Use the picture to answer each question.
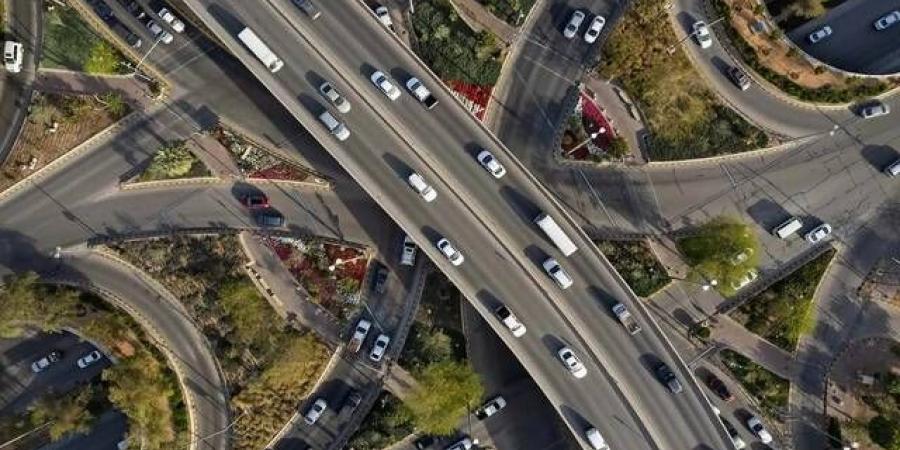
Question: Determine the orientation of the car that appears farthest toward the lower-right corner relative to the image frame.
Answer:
diagonally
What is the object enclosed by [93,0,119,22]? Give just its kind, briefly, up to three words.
car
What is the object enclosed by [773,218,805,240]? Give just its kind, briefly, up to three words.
vehicle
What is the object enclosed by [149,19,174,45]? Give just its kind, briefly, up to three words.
car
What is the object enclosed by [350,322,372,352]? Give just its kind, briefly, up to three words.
truck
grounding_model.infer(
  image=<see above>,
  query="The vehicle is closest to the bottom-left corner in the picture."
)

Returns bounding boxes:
[33,351,62,371]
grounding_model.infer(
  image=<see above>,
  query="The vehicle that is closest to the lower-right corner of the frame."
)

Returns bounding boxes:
[745,416,769,442]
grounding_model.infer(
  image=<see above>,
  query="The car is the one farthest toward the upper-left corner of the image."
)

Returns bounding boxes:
[4,42,22,71]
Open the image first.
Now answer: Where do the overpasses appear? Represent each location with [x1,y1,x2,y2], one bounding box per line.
[175,0,742,450]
